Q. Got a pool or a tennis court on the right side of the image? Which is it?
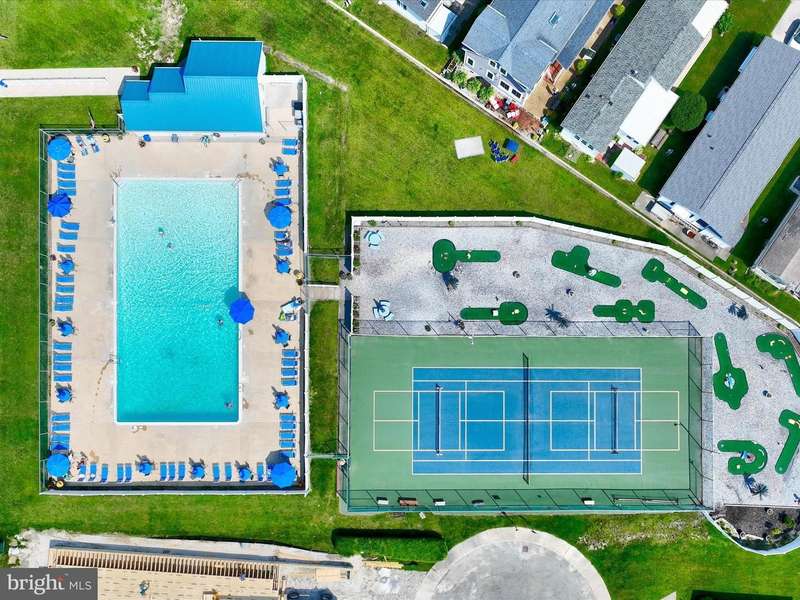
tennis court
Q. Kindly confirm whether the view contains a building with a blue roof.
Yes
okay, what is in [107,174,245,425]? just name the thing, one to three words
swimming pool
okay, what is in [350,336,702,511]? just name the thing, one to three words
tennis court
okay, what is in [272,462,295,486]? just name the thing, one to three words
umbrella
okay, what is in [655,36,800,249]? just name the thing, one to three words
house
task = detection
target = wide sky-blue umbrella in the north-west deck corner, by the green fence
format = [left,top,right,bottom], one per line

[48,137,73,161]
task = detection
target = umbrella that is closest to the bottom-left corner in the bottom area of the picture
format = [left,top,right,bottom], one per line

[48,452,73,475]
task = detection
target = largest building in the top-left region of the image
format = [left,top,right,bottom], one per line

[117,40,266,135]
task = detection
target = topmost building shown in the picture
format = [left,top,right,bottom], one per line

[370,0,456,47]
